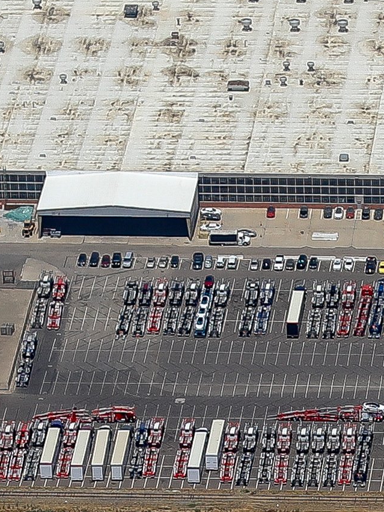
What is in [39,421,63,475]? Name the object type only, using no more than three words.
truck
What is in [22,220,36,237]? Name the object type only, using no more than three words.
work vehicle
